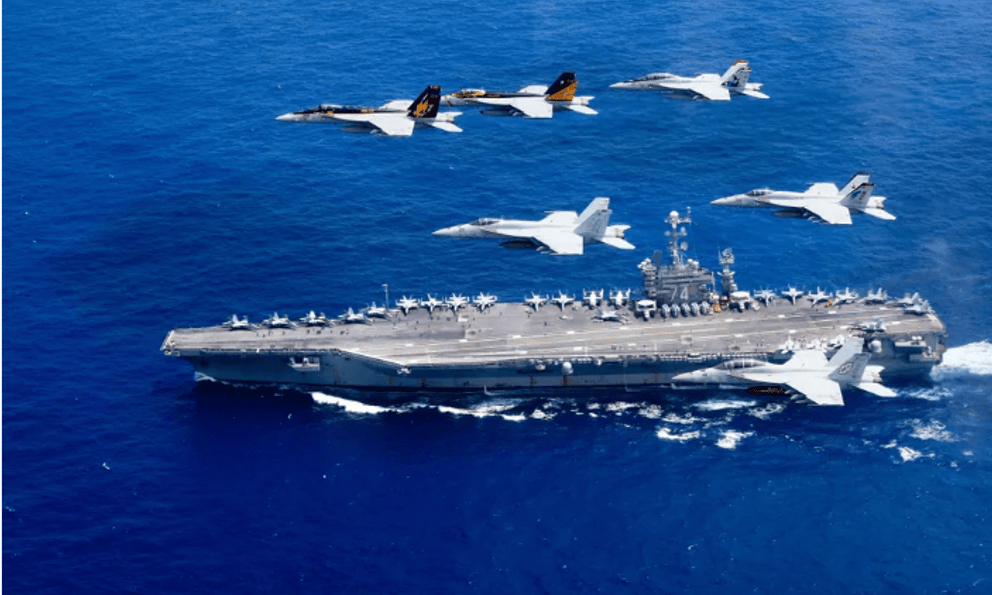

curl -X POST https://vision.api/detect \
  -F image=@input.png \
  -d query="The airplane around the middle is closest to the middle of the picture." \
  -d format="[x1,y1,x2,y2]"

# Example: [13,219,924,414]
[472,289,493,308]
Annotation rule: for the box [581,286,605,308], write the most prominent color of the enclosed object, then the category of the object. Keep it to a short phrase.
white airplane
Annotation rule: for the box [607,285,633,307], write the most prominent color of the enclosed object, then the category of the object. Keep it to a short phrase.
white airplane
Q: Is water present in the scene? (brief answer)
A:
Yes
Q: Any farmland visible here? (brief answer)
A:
No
